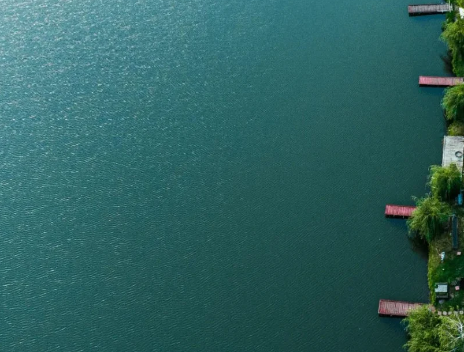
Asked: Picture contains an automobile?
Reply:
No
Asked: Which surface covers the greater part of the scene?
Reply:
water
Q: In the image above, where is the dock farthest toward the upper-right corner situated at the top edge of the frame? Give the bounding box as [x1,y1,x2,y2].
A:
[408,0,452,15]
